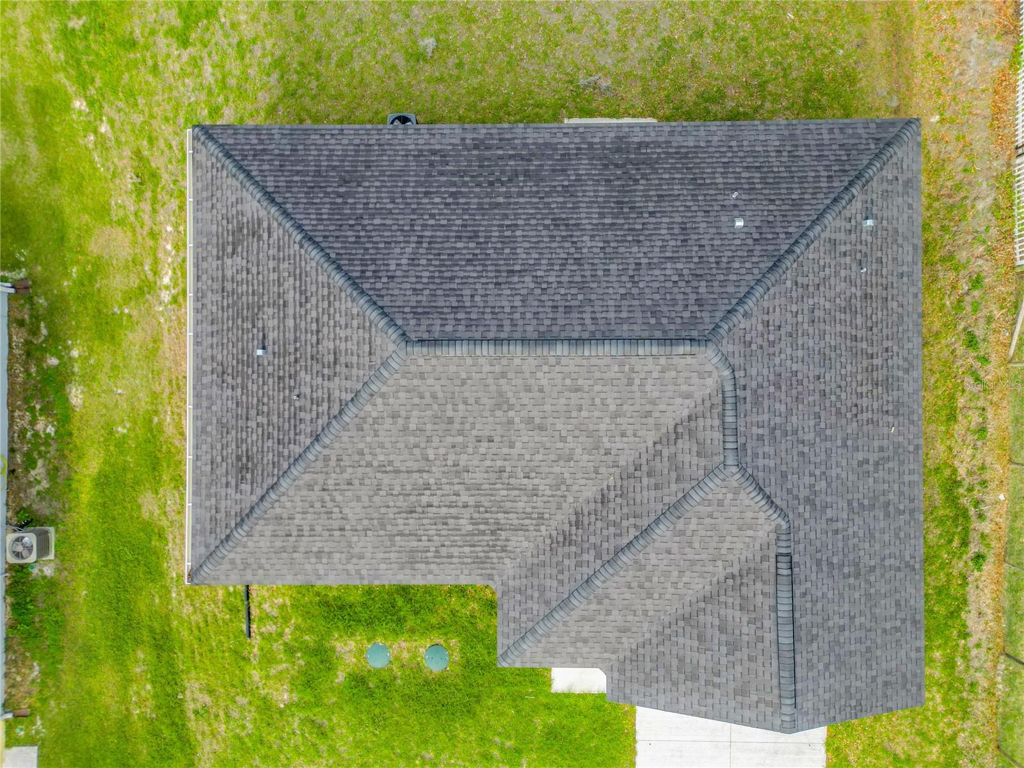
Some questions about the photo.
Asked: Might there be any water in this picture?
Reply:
No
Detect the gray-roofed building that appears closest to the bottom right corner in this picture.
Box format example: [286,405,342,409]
[186,118,925,734]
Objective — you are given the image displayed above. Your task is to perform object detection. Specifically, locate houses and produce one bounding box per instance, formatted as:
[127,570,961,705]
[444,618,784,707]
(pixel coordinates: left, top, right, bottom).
[0,282,15,768]
[186,118,925,734]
